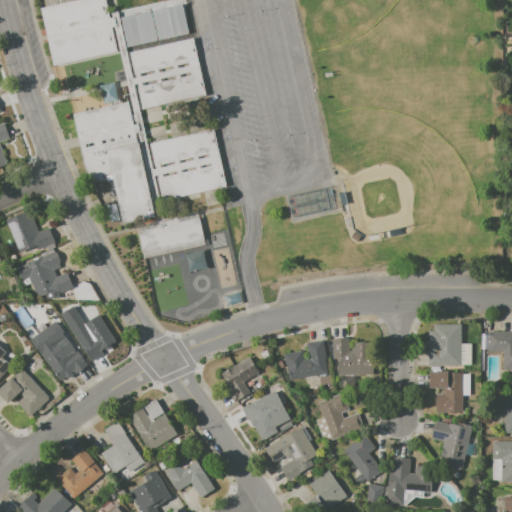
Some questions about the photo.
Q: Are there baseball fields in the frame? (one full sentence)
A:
Yes, looking at the shot, I can spot a baseball field.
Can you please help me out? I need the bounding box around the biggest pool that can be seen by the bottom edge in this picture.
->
[441,484,459,504]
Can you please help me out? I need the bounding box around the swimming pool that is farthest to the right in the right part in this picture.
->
[488,356,500,381]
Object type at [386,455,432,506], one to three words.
house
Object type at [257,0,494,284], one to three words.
sports field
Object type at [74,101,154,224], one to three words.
building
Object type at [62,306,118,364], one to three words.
house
